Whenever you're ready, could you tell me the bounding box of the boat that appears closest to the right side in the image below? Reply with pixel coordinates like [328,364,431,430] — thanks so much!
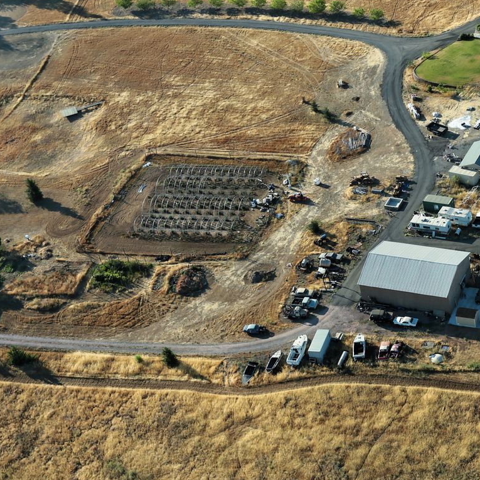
[352,332,365,356]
